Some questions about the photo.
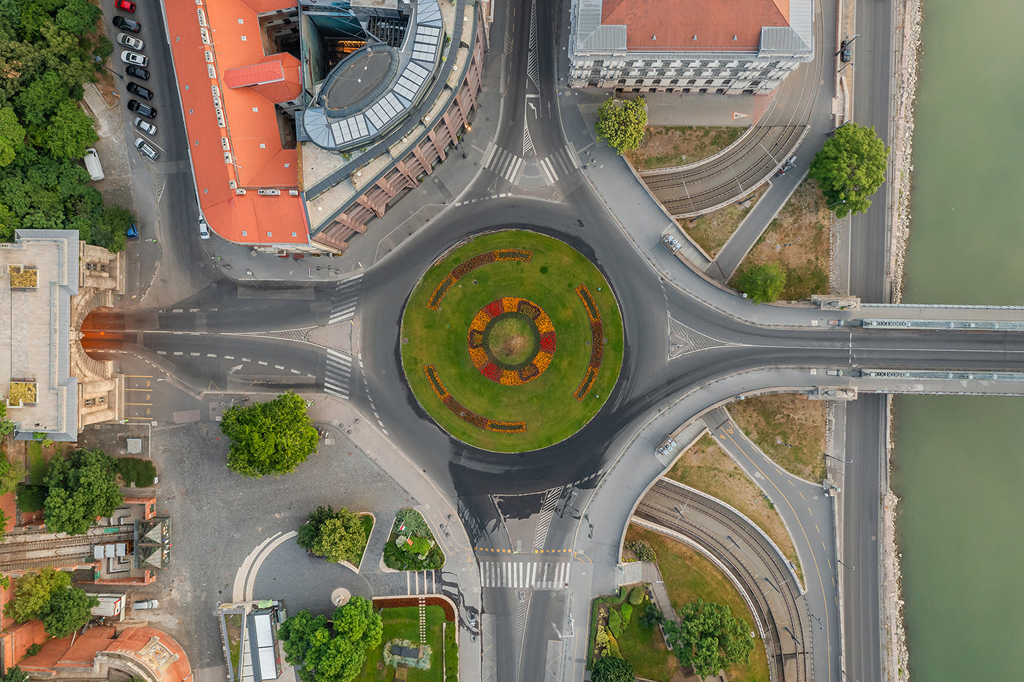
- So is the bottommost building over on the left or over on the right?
left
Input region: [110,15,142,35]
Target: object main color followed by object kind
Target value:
black car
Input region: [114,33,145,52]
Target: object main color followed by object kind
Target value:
gray car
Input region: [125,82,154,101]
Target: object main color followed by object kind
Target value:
black car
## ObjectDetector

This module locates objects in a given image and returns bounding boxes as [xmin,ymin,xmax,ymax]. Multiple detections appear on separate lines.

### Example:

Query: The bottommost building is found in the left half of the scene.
[244,607,285,682]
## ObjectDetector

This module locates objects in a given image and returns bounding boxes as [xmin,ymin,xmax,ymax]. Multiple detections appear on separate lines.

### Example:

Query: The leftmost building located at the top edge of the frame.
[160,0,328,257]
